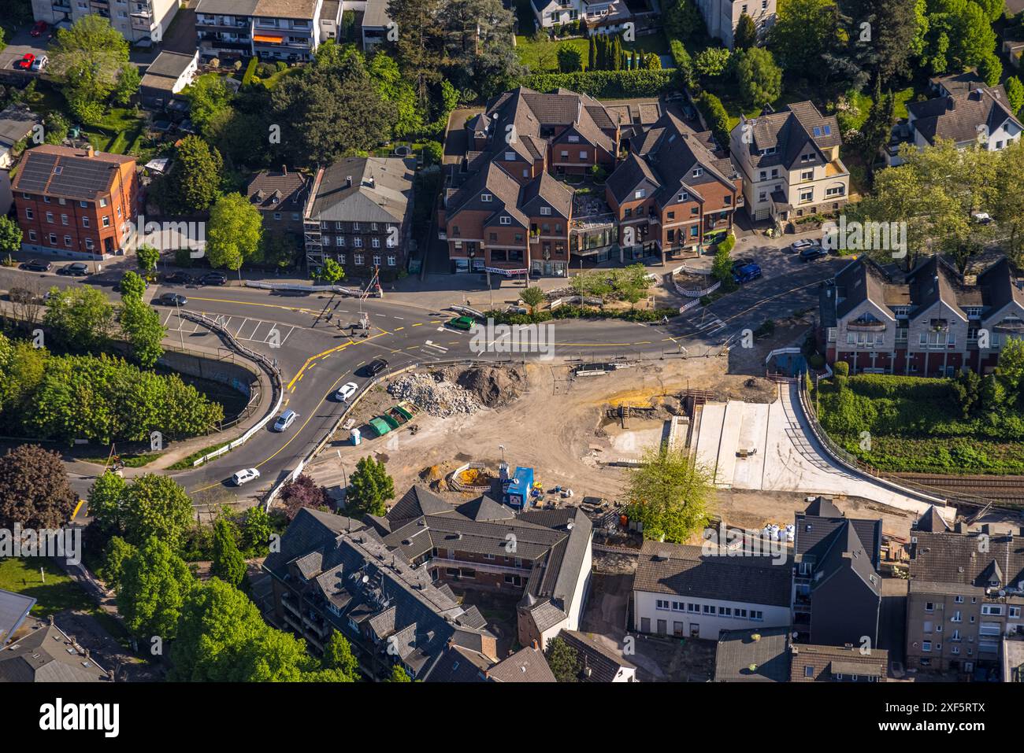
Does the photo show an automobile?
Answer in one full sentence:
Yes, the photo shows an automobile.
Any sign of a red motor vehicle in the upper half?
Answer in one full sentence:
Yes, in the upper half there is a red motor vehicle.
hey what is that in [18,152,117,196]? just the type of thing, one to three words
solar panel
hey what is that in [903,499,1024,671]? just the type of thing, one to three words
house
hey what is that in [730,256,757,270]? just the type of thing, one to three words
car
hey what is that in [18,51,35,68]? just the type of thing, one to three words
car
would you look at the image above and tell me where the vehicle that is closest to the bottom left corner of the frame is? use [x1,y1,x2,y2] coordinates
[232,467,260,484]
